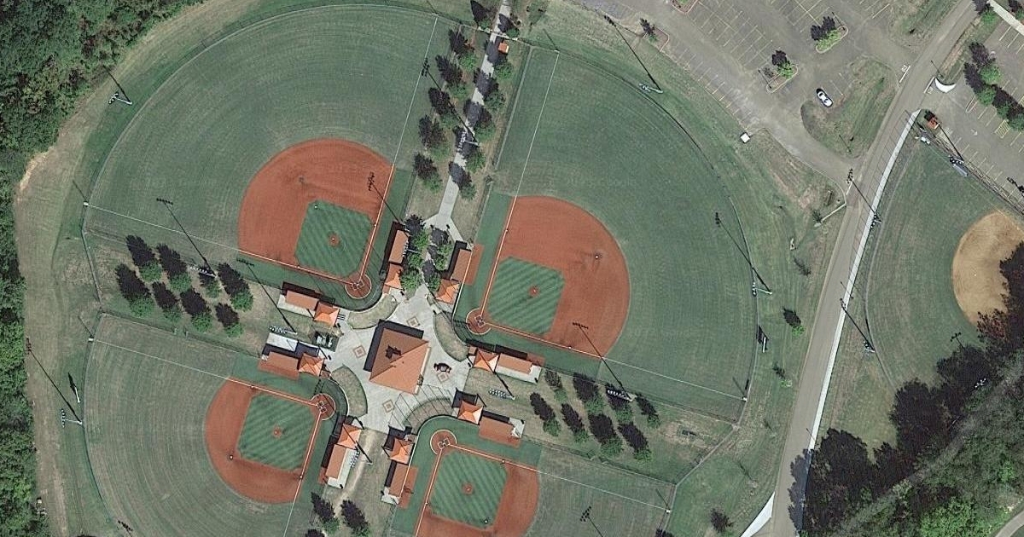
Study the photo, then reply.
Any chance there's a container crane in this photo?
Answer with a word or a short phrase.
No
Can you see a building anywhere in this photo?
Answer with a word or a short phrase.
Yes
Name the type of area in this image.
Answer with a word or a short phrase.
sports ground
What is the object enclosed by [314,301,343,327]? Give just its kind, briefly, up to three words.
building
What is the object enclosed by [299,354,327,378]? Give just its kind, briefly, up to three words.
building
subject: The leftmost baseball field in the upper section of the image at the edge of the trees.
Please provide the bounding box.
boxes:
[84,5,459,312]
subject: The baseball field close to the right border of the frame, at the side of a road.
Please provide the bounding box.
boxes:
[868,140,1024,432]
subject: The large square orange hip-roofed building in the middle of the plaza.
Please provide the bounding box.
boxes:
[369,328,430,394]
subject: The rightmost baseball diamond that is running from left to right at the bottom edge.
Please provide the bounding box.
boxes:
[384,412,673,537]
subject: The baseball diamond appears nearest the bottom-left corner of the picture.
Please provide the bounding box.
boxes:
[85,310,347,537]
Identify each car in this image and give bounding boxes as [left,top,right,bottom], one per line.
[817,89,831,107]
